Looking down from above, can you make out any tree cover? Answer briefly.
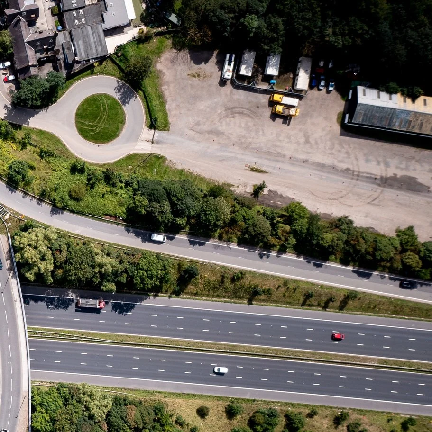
Yes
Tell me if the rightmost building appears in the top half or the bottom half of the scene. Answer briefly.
top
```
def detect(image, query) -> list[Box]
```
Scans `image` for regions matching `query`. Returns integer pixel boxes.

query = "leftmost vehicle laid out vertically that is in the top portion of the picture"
[219,52,233,81]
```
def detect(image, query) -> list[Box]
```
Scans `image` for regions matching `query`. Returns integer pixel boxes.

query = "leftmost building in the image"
[0,0,54,81]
